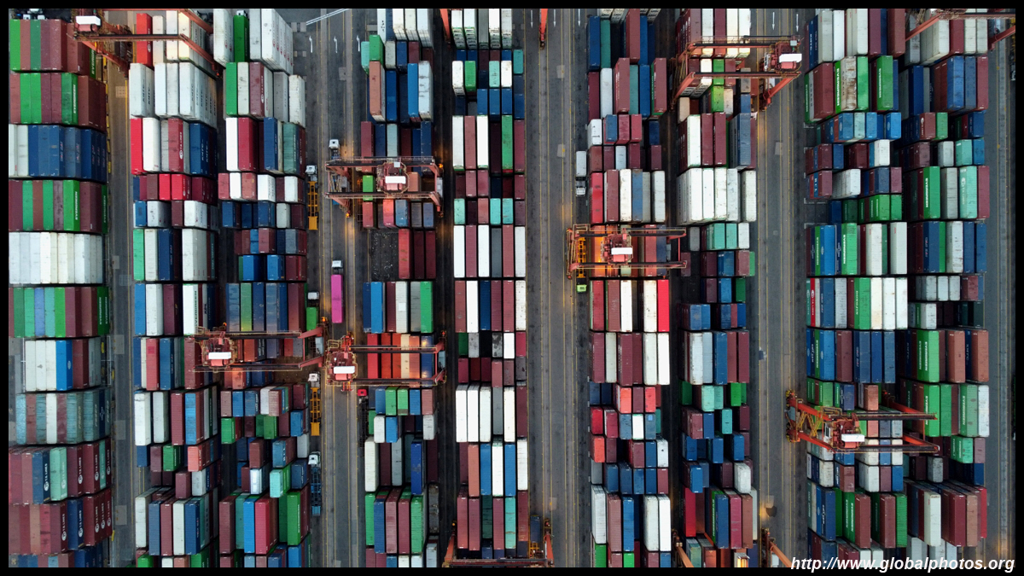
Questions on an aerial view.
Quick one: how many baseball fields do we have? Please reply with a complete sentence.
The count of baseball fields is 0.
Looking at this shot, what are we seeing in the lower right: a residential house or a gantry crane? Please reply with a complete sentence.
The one visible in the lower right is a gantry crane.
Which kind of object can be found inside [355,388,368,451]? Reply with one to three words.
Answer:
vehicle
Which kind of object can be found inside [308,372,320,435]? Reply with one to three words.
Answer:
vehicle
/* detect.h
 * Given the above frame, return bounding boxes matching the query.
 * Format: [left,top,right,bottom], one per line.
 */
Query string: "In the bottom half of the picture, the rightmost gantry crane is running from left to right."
[786,386,943,455]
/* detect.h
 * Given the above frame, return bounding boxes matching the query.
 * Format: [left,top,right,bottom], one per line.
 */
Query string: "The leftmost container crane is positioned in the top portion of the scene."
[61,0,221,82]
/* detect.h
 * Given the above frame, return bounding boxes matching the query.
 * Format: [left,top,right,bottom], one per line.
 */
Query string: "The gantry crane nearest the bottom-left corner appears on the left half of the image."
[184,315,330,374]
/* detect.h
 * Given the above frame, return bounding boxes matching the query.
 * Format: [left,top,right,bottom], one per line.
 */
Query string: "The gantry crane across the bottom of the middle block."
[429,514,558,576]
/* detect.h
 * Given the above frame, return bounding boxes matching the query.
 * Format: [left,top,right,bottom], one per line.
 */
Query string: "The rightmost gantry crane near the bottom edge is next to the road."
[672,527,808,576]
